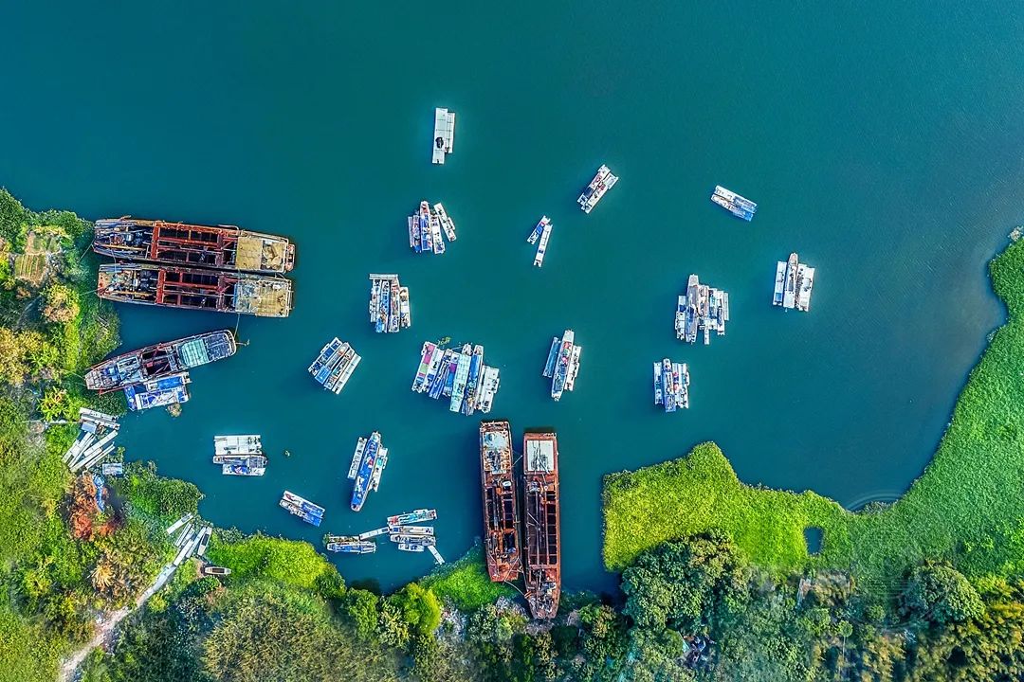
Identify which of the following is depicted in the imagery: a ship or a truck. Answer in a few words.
ship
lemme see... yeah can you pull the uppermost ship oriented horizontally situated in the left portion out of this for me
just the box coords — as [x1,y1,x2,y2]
[91,212,297,275]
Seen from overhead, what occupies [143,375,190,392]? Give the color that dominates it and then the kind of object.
blue boat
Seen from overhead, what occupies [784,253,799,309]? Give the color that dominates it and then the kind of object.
white boat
